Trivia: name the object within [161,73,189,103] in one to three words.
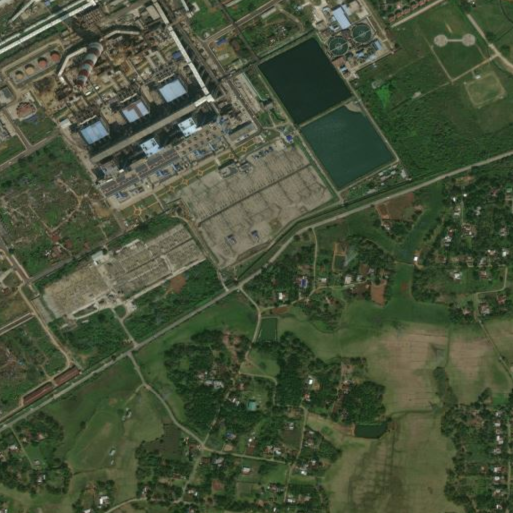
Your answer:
building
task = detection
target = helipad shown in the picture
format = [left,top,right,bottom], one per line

[434,34,475,47]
